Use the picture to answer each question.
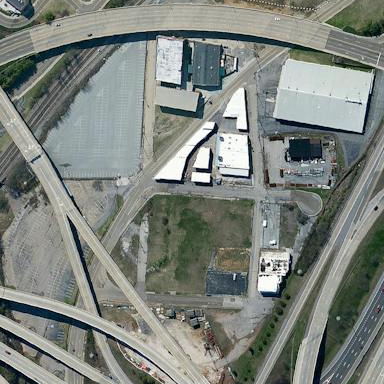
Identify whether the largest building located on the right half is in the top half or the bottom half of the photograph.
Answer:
top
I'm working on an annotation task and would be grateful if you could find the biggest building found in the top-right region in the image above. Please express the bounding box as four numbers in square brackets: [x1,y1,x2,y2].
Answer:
[274,56,374,135]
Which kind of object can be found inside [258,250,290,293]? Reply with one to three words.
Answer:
building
